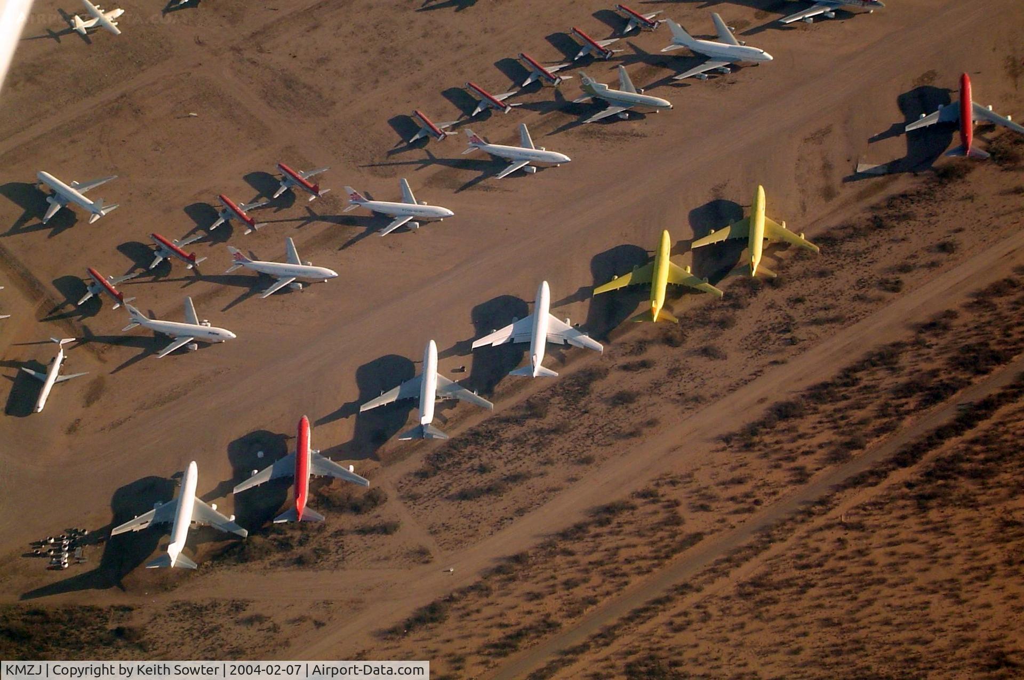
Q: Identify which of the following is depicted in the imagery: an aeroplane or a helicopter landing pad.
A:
aeroplane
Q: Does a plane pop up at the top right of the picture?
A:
Yes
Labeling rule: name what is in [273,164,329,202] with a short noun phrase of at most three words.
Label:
airplane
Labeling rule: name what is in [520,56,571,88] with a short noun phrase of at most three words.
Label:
airplane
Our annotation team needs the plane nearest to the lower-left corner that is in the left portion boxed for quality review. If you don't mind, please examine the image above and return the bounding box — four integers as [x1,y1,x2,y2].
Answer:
[110,461,248,570]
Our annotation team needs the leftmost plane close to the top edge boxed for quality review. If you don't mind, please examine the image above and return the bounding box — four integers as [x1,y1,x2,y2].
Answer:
[72,0,126,35]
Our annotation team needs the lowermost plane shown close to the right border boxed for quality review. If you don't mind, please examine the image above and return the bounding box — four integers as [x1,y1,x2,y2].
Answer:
[906,75,1024,156]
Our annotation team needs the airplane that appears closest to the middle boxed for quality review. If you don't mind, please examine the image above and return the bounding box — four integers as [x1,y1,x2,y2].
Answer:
[473,282,603,378]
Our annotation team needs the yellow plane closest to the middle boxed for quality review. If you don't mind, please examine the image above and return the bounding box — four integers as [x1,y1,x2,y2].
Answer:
[595,231,723,324]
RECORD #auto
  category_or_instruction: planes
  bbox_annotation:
[360,340,493,440]
[575,66,673,125]
[595,231,723,324]
[149,234,206,270]
[122,295,236,359]
[692,188,819,277]
[37,172,118,223]
[775,0,885,24]
[21,339,89,414]
[345,178,456,237]
[463,124,571,180]
[72,0,126,35]
[226,237,339,299]
[209,195,268,235]
[571,30,622,61]
[520,56,571,88]
[273,164,329,202]
[77,268,138,310]
[473,282,603,378]
[614,4,668,35]
[906,75,1024,156]
[466,84,521,117]
[662,13,773,82]
[110,461,248,570]
[233,417,369,524]
[408,109,459,144]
